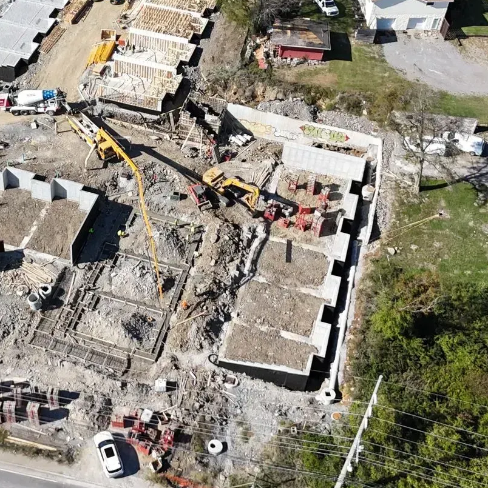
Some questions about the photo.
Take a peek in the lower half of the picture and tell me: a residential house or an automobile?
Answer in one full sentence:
Visible in the lower half of the picture is an automobile.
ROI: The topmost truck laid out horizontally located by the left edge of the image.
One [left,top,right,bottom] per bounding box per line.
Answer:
[0,89,74,117]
